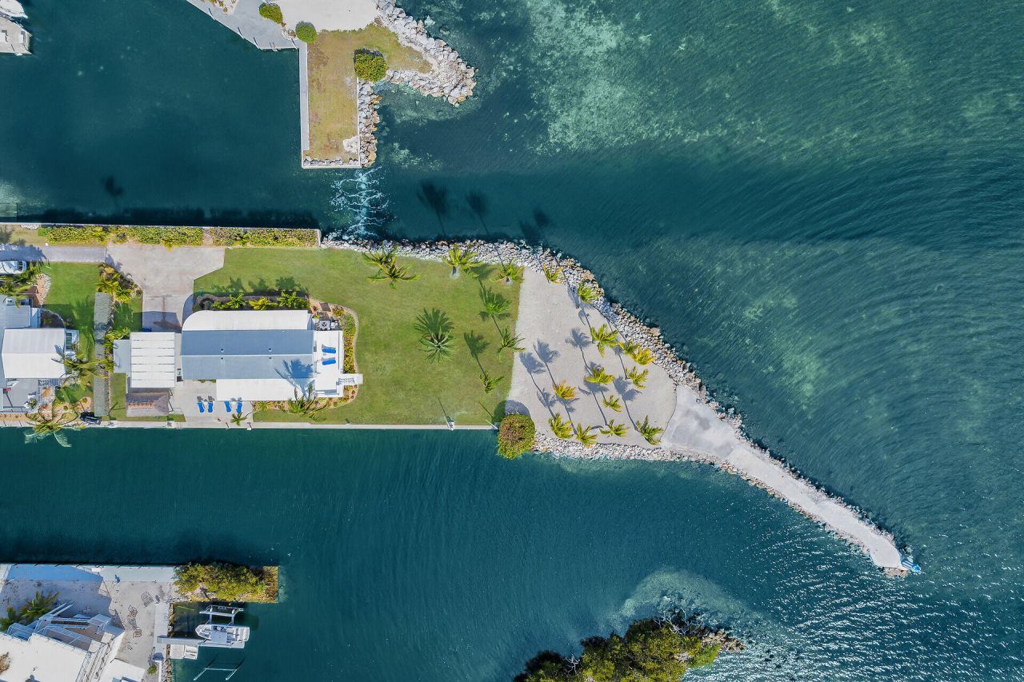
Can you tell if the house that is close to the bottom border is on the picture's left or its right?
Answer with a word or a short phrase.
left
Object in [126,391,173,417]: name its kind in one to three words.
building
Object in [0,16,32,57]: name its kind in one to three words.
boat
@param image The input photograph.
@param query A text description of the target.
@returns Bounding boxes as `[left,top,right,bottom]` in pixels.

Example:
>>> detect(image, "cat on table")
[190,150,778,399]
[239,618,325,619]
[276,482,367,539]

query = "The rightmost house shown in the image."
[180,310,363,401]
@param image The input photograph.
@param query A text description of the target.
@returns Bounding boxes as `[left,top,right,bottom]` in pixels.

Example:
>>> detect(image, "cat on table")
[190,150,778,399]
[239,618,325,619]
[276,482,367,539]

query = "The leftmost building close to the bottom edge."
[0,603,154,682]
